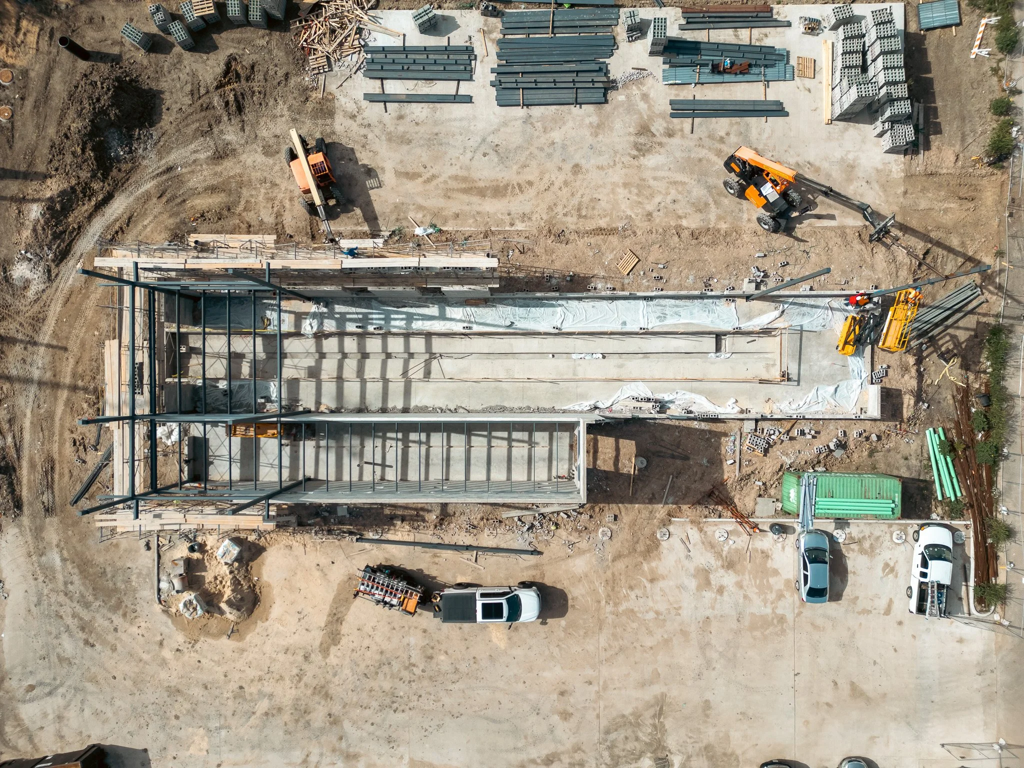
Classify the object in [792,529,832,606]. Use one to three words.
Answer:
car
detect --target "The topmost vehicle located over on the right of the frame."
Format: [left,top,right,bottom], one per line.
[722,147,912,293]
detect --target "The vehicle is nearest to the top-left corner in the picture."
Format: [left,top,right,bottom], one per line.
[280,120,347,275]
